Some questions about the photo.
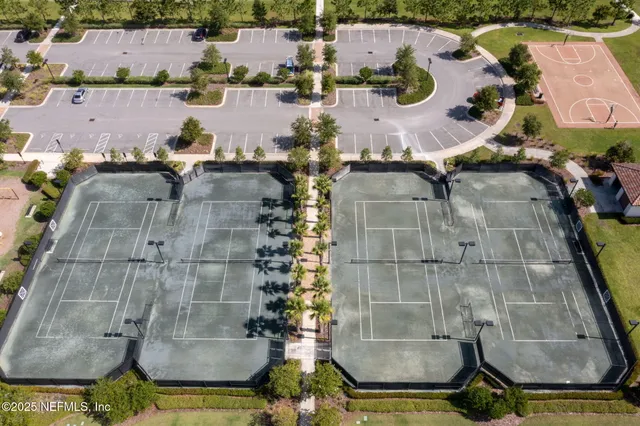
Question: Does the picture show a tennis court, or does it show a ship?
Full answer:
Of the two, only a tennis court appears.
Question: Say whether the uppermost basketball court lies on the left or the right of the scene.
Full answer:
The uppermost basketball court is on the right side of the image.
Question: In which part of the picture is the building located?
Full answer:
The building is located in the right region of the scene.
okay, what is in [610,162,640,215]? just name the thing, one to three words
building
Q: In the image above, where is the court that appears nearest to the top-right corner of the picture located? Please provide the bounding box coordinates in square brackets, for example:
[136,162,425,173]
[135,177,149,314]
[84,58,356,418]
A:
[528,42,640,127]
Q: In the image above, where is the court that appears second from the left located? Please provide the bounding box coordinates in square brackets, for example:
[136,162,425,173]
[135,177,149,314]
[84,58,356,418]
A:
[138,172,294,387]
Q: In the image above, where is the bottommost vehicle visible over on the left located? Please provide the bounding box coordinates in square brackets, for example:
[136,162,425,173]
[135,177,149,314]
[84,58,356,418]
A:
[70,86,86,103]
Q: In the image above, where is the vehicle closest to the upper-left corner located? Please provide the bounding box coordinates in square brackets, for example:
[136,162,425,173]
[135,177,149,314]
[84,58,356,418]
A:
[13,29,29,42]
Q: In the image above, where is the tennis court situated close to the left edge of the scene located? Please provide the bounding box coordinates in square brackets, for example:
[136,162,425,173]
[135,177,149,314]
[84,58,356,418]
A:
[0,172,179,386]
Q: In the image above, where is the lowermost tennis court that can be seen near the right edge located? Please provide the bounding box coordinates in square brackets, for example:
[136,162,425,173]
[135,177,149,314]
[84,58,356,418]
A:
[448,171,629,389]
